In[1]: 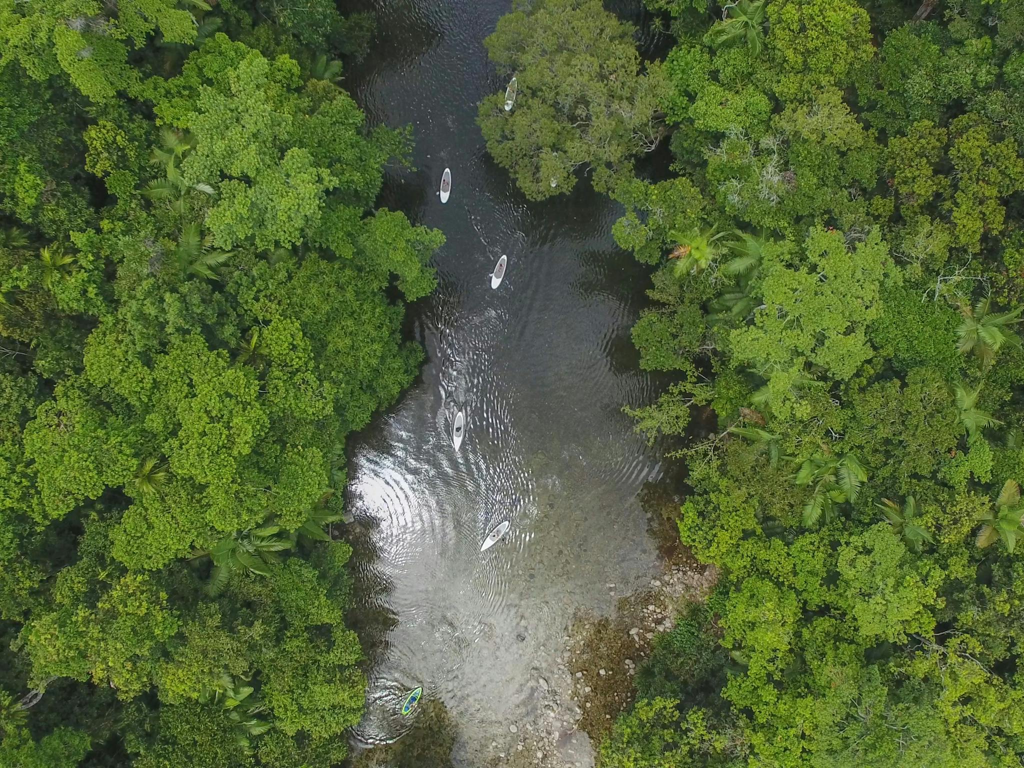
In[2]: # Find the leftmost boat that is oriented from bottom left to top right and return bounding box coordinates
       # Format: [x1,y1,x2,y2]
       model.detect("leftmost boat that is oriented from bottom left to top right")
[402,688,421,715]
